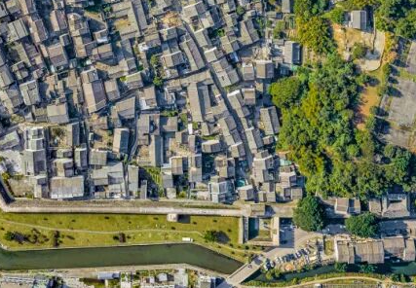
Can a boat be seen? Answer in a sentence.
No, the scene contains no boat.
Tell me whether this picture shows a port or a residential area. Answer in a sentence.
This image shows a residential area.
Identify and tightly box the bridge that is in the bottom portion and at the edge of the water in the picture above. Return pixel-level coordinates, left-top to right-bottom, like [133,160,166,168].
[221,248,273,288]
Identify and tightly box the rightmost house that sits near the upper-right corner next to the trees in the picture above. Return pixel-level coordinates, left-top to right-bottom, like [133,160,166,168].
[349,9,371,30]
